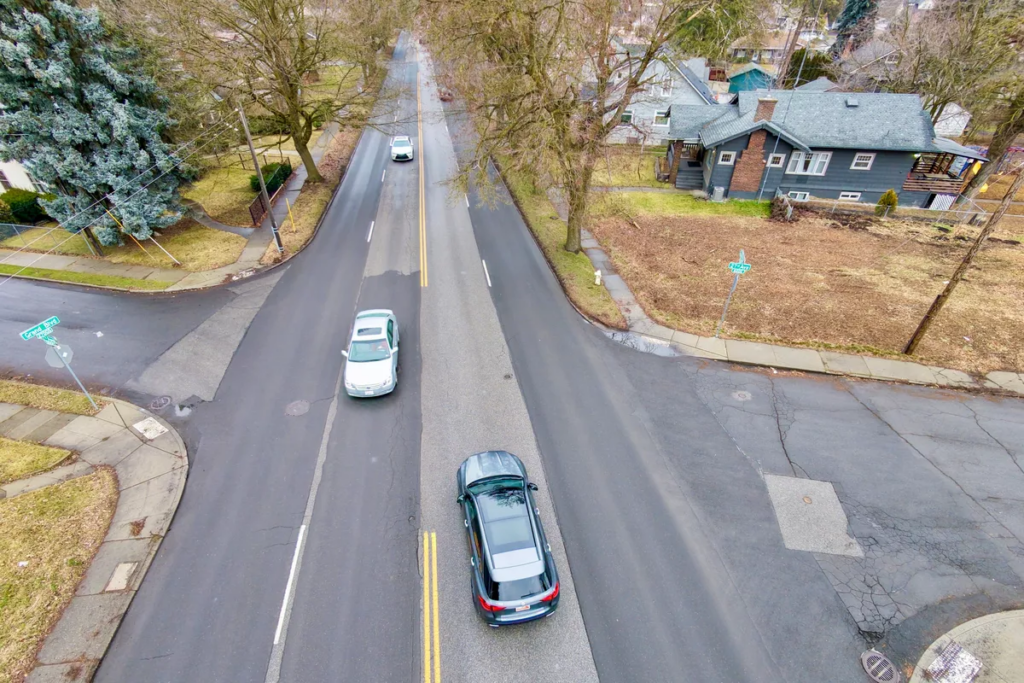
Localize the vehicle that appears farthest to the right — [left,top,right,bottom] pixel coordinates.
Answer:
[458,451,559,628]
